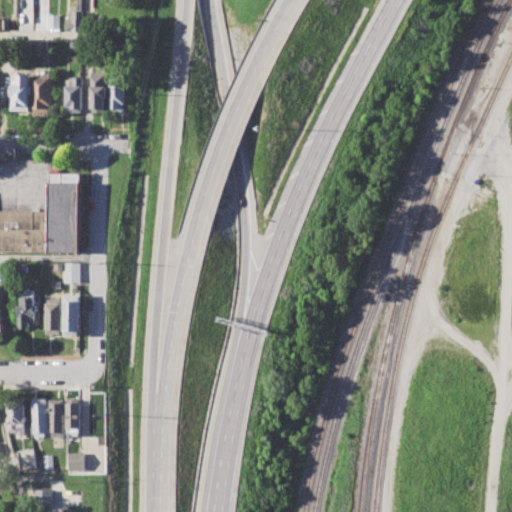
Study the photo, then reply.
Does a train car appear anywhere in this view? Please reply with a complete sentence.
No, no train car is visible in the scene.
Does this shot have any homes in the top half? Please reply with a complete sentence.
Yes, there is a home in the top half.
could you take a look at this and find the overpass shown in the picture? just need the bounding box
[178,0,310,242]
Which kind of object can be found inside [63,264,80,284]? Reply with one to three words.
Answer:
building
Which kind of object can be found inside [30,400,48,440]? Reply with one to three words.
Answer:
house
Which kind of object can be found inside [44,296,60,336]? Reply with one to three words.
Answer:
house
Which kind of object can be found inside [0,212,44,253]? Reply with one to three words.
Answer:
building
